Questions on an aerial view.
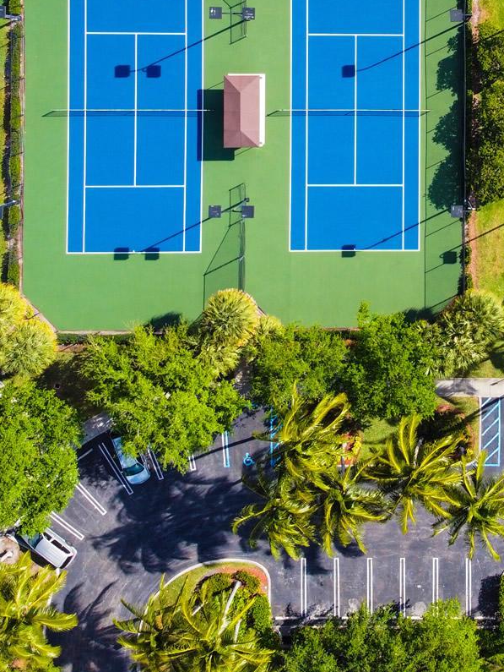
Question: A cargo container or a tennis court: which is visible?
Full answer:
The image shows a tennis court.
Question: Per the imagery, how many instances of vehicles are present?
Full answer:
There are 2 vehicles in the image.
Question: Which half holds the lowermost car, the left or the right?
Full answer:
The lowermost car sits on the left side.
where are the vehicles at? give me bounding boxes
[103,434,149,488]
[14,520,75,571]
